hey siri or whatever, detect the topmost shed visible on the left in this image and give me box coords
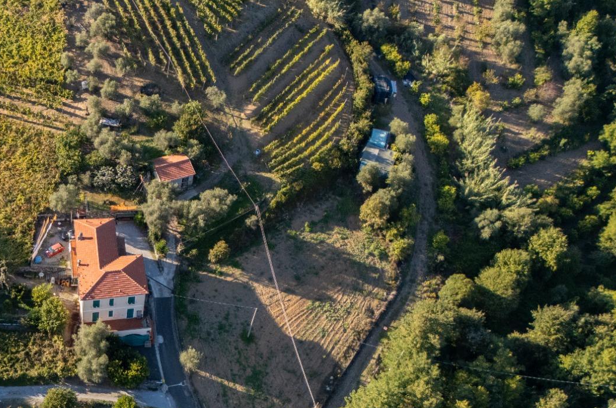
[147,151,195,191]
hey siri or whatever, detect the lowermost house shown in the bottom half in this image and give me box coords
[63,215,150,355]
